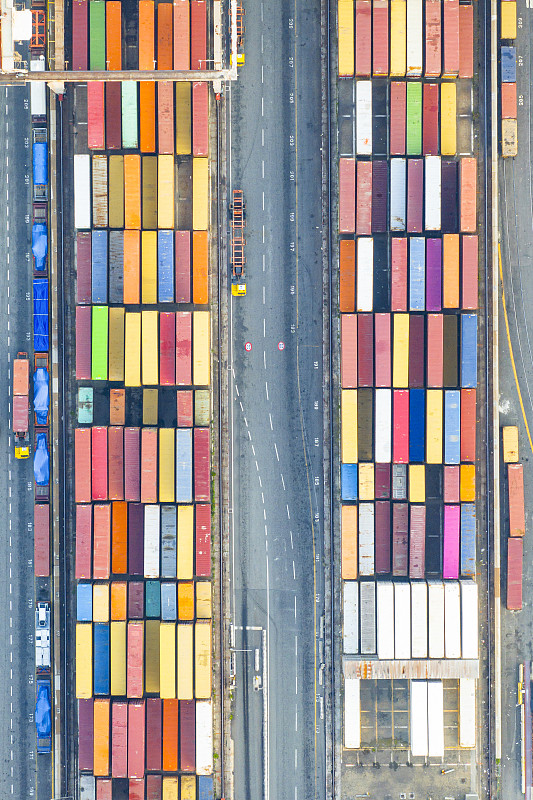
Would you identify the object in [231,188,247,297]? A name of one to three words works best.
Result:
vehicle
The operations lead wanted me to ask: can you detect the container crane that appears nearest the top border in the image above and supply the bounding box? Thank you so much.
[0,0,238,101]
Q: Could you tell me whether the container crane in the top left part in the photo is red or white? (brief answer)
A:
white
